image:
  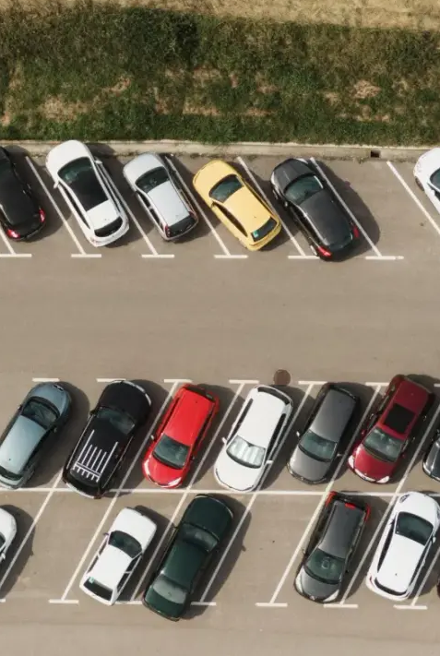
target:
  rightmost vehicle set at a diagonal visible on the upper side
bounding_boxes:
[270,159,357,261]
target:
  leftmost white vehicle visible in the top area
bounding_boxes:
[48,140,130,247]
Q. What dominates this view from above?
paved ground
